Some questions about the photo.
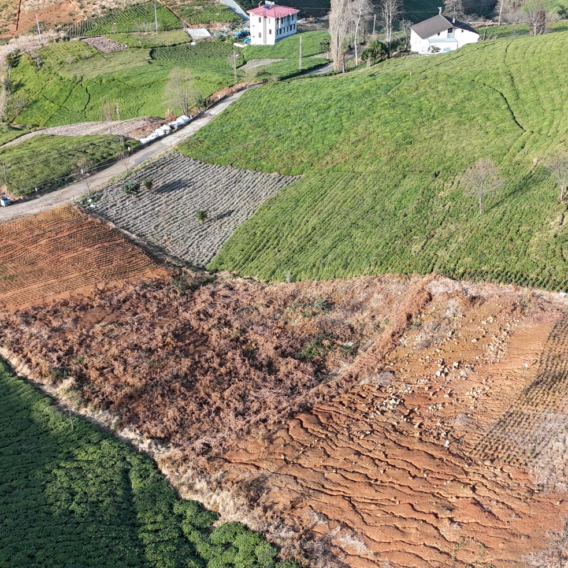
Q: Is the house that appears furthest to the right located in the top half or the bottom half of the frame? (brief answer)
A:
top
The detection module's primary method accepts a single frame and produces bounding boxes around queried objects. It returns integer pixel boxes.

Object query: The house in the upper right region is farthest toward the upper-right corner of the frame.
[409,0,486,53]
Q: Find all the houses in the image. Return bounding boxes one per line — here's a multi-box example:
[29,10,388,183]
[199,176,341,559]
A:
[409,0,486,53]
[243,0,301,44]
